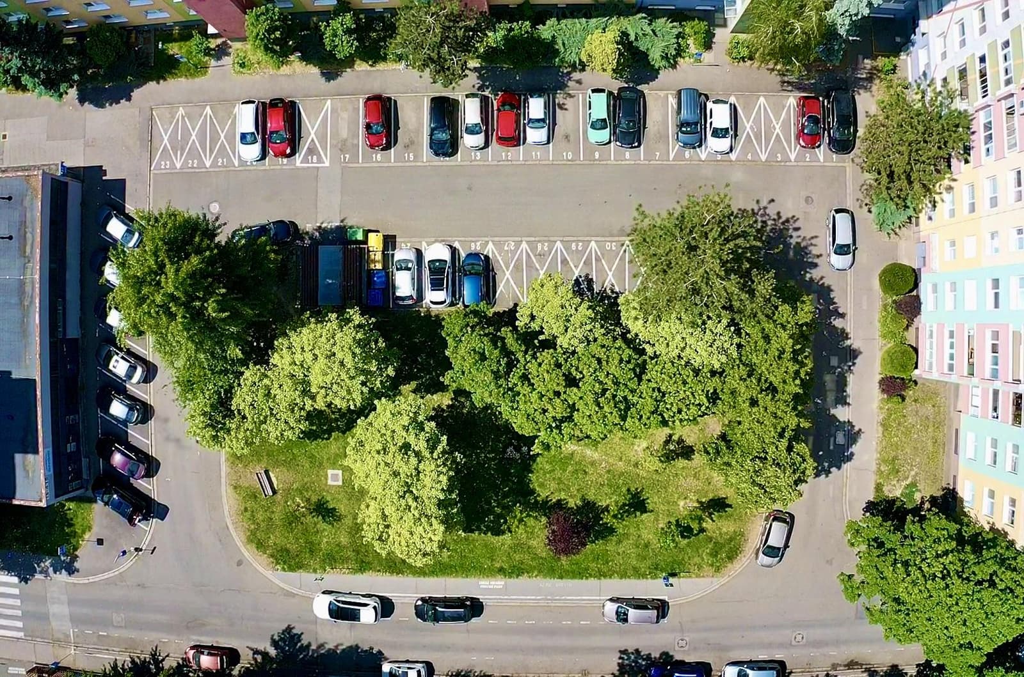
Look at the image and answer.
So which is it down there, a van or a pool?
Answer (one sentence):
The one in the frame is a van.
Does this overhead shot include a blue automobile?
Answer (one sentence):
Yes, there's a blue automobile here.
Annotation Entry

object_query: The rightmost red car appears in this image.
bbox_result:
[795,96,824,149]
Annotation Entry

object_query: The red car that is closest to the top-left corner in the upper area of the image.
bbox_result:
[265,99,295,157]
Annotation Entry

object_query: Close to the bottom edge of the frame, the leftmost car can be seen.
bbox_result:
[181,642,235,673]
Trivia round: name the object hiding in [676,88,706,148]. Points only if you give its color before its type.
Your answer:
blue van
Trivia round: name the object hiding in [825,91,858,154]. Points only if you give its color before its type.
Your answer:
black car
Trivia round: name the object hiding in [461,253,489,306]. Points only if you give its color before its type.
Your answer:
blue car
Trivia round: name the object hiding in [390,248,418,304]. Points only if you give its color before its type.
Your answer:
white car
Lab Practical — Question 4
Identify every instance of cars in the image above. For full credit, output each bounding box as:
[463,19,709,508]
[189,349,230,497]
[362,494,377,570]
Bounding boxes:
[379,655,434,677]
[101,440,156,482]
[181,642,235,673]
[719,659,781,677]
[493,94,521,147]
[235,101,266,161]
[756,508,792,567]
[424,245,454,306]
[615,88,644,148]
[415,595,471,627]
[97,344,154,385]
[315,591,381,624]
[825,91,858,154]
[95,296,142,339]
[95,206,149,249]
[98,388,152,428]
[586,89,614,146]
[428,97,457,157]
[461,253,489,306]
[706,100,735,154]
[390,248,418,304]
[238,217,300,246]
[92,476,154,525]
[603,596,661,626]
[460,95,488,150]
[795,96,824,149]
[524,95,551,146]
[265,99,295,157]
[92,251,141,293]
[362,96,391,151]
